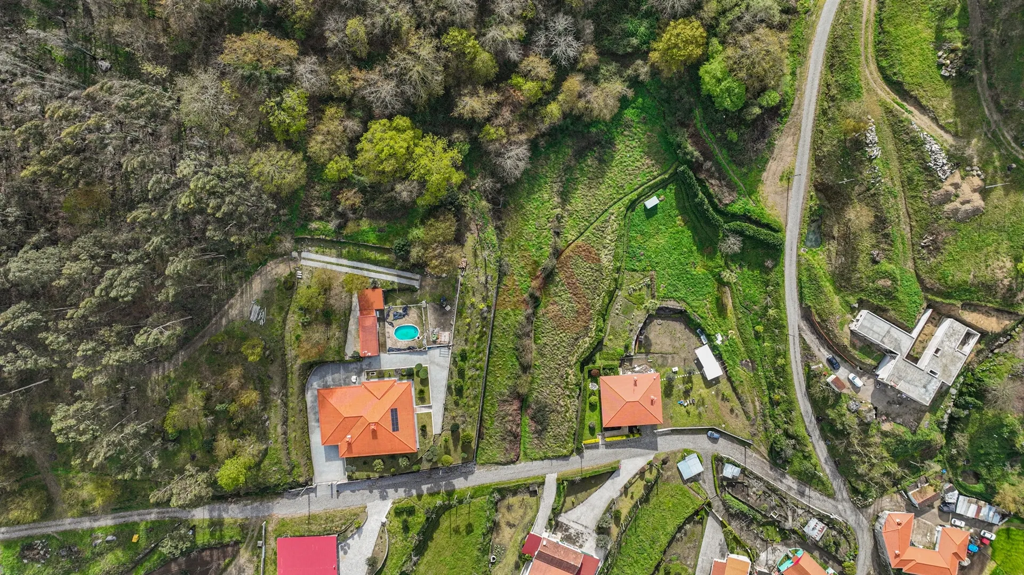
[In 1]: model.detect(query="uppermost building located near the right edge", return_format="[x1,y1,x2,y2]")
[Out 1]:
[849,309,981,406]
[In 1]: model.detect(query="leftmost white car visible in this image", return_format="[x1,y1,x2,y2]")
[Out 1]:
[849,374,864,388]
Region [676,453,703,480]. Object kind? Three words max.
shed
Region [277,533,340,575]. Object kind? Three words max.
barn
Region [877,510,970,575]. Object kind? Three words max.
house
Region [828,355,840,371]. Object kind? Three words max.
vehicle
